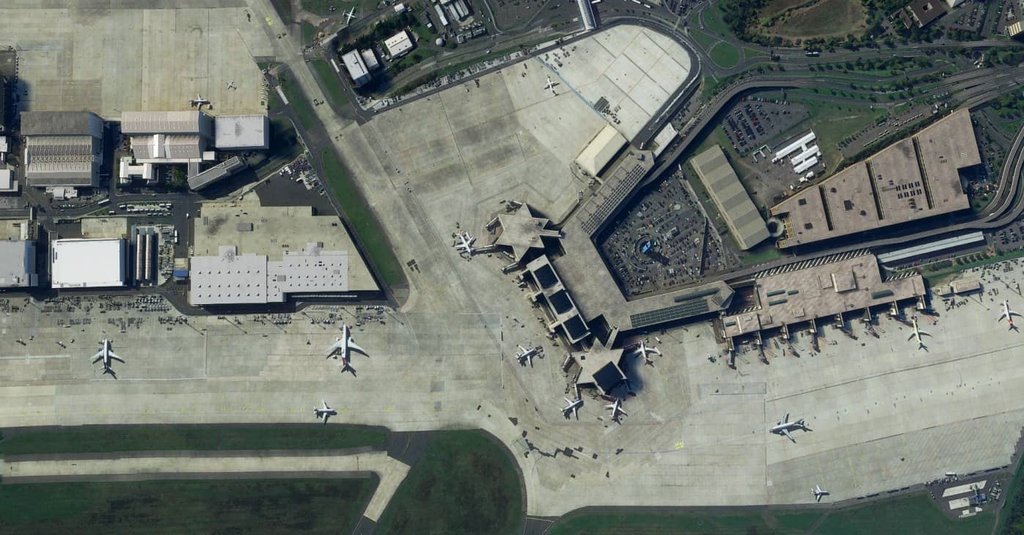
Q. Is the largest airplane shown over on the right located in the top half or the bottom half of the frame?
bottom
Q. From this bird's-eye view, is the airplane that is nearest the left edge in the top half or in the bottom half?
bottom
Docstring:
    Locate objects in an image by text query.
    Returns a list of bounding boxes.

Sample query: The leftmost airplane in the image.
[89,338,122,369]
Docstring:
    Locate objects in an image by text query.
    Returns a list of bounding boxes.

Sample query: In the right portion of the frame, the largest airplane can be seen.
[769,409,806,441]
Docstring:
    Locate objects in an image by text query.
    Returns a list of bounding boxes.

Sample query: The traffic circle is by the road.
[702,34,745,77]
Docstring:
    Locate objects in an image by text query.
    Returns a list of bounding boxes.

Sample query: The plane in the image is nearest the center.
[452,231,473,254]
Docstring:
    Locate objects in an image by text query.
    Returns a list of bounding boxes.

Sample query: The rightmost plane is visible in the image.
[998,300,1023,327]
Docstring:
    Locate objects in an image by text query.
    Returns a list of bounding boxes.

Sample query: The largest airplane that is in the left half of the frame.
[323,325,365,368]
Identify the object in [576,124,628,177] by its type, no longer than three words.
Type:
hangar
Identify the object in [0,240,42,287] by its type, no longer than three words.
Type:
building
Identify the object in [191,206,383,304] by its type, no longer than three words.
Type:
building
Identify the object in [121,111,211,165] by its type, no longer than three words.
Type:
hangar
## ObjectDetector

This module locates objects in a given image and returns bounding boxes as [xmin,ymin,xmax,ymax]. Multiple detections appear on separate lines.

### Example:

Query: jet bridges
[500,249,513,259]
[625,378,637,397]
[622,342,641,352]
[779,325,800,359]
[561,353,572,373]
[507,199,523,205]
[861,307,881,339]
[725,337,737,371]
[484,216,500,230]
[753,330,770,365]
[888,301,916,328]
[469,243,497,253]
[806,319,821,354]
[500,261,519,273]
[914,296,942,317]
[602,393,616,403]
[834,312,858,342]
